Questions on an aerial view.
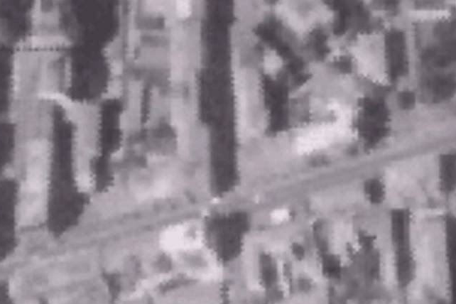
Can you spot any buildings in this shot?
Yes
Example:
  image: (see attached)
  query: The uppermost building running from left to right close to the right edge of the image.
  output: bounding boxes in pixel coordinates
[405,7,454,24]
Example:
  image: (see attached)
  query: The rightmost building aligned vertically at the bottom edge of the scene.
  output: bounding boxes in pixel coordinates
[406,212,447,304]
